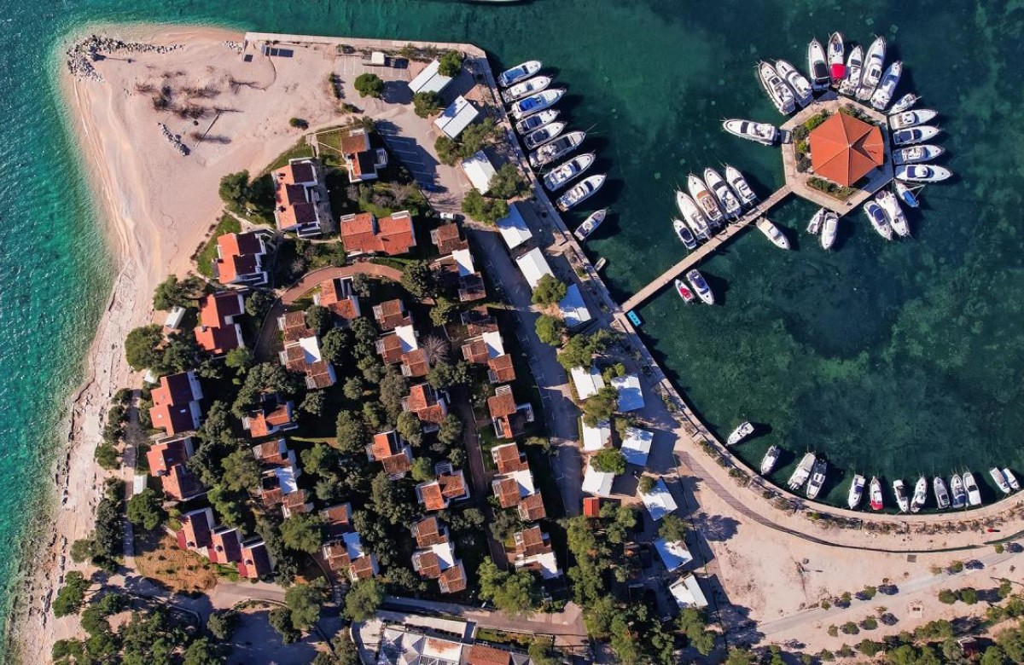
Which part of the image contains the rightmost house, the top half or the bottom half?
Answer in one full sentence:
Seen from above, the rightmost house lies in the bottom half of the view.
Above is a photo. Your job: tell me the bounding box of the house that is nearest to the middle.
[461,307,515,384]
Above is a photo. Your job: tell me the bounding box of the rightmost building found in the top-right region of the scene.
[806,111,884,187]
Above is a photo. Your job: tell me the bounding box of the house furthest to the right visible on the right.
[948,628,978,658]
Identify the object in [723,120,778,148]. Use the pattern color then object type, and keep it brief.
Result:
white boat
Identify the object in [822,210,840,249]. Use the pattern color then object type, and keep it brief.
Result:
white boat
